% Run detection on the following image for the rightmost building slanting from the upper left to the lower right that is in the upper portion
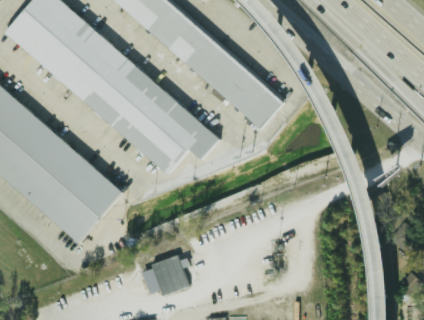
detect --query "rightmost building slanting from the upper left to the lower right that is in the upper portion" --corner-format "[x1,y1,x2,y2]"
[117,0,286,129]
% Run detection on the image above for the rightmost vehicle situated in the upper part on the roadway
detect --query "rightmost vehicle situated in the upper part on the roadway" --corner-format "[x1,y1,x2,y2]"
[400,76,416,91]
